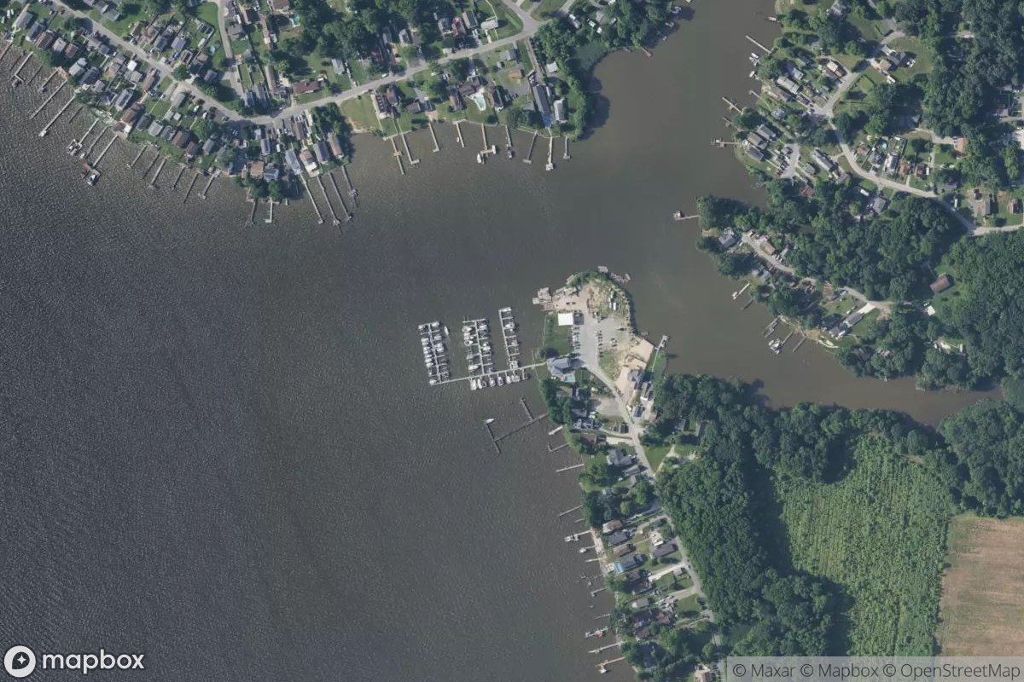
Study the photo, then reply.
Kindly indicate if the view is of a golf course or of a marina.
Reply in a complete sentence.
The picture captures a marina.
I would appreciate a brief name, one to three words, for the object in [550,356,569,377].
building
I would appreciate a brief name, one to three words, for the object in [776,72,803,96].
house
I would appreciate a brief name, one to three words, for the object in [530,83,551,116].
house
